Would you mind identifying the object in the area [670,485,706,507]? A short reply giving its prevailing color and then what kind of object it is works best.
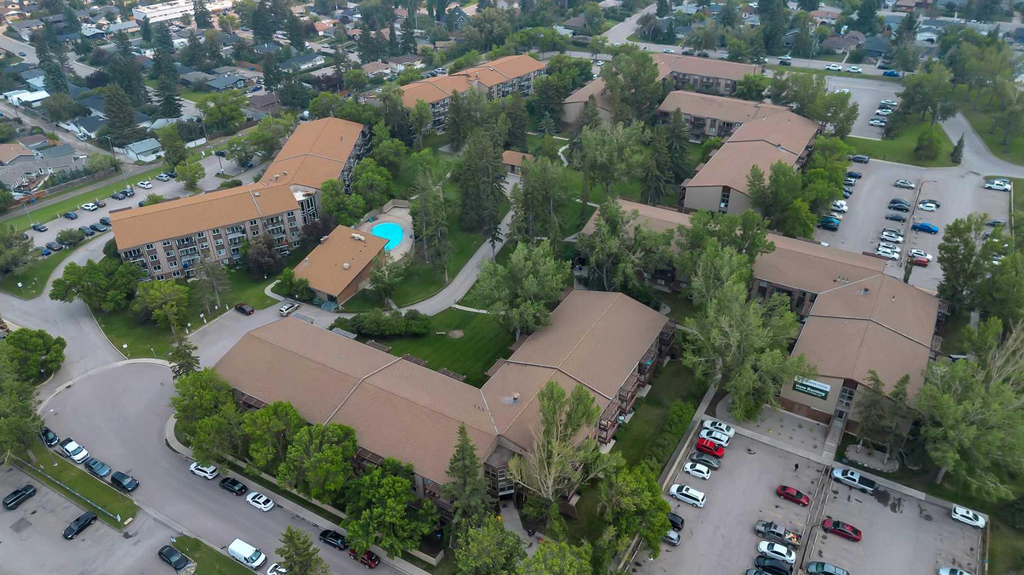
white car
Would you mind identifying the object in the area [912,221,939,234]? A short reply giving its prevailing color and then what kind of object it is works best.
blue vehicle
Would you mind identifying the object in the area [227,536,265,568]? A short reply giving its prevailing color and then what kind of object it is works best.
white van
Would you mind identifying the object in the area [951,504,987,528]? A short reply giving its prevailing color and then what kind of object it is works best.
white car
